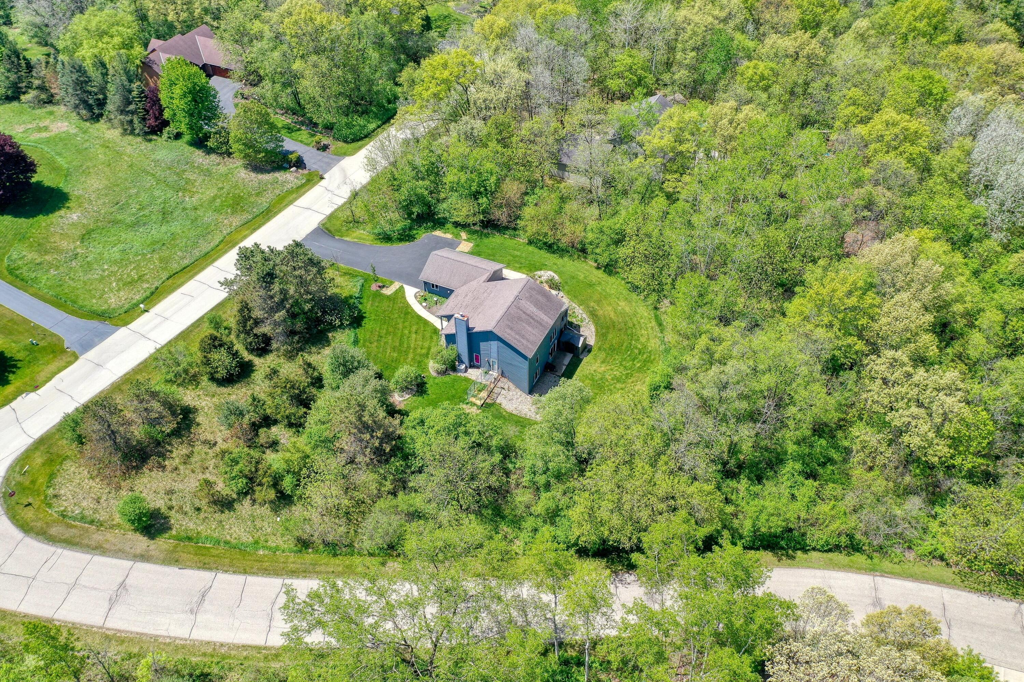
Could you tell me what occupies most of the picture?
trees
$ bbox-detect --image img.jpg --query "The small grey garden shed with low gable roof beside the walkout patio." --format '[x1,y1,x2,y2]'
[559,327,587,355]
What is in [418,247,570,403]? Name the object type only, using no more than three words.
house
